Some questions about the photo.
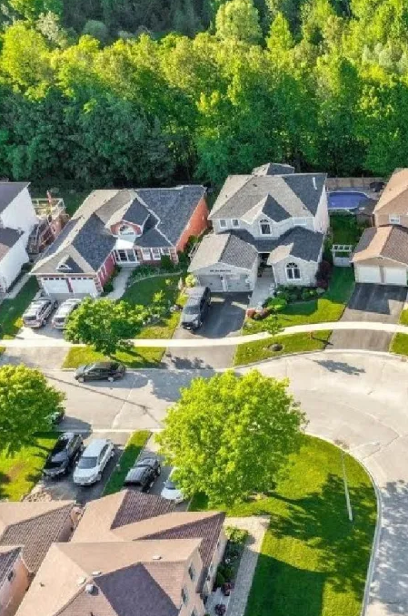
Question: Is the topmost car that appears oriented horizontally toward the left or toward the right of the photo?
left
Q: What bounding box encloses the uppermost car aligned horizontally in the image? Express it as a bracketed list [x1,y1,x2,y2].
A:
[72,360,128,382]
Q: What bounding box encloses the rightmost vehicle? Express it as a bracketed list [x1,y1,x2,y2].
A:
[181,294,210,327]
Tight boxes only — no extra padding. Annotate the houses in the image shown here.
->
[350,167,408,284]
[187,157,328,292]
[31,184,209,295]
[0,183,38,289]
[15,486,228,616]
